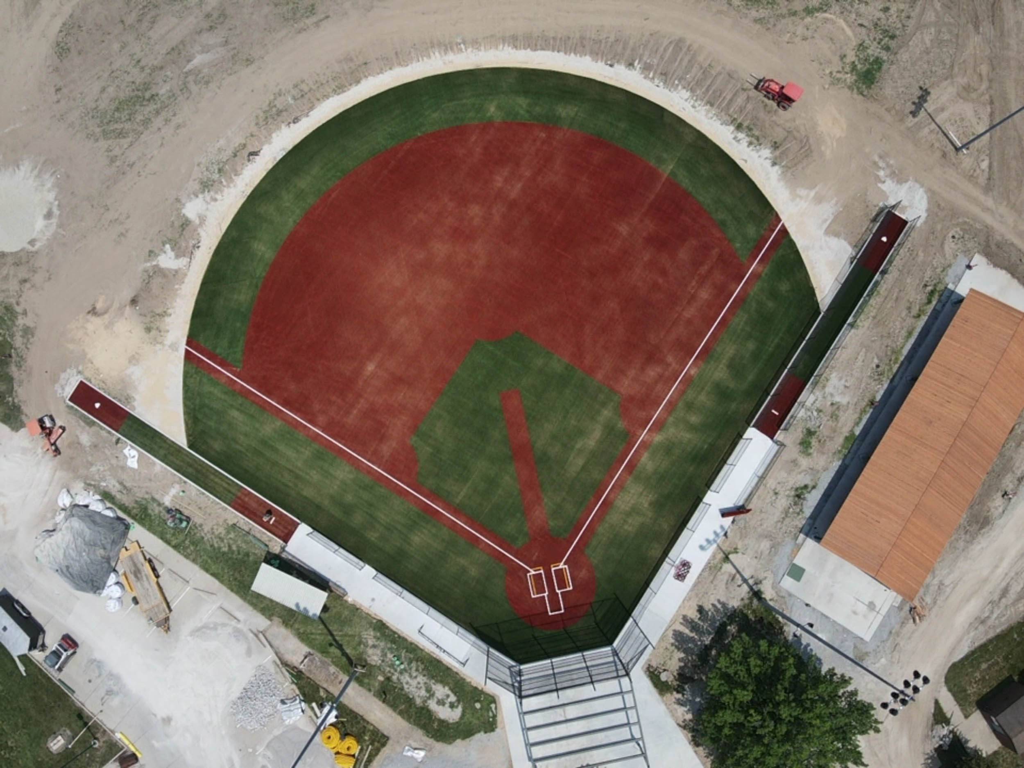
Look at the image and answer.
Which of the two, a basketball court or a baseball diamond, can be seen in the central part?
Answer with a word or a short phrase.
baseball diamond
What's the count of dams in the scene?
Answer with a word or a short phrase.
zero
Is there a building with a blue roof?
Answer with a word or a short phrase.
No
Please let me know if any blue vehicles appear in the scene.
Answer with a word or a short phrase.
No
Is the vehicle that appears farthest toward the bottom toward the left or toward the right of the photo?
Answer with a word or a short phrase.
left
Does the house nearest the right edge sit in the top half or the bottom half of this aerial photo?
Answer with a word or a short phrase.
bottom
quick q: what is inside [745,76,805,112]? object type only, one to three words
work vehicle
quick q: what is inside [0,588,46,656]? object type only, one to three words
trailer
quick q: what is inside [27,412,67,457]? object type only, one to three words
work vehicle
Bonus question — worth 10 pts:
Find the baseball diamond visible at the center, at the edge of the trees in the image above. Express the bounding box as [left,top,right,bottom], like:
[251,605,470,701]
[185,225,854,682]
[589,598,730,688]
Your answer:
[182,67,823,664]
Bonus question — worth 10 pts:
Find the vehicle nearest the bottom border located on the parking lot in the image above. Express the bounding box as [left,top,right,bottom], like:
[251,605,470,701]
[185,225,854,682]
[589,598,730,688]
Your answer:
[36,631,80,677]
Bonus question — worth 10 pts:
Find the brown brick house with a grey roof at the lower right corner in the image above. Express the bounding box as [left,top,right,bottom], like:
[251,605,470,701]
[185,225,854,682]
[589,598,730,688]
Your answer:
[982,676,1024,762]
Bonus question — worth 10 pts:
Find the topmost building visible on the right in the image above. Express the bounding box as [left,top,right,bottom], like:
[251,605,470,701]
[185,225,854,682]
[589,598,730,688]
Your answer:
[814,291,1024,602]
